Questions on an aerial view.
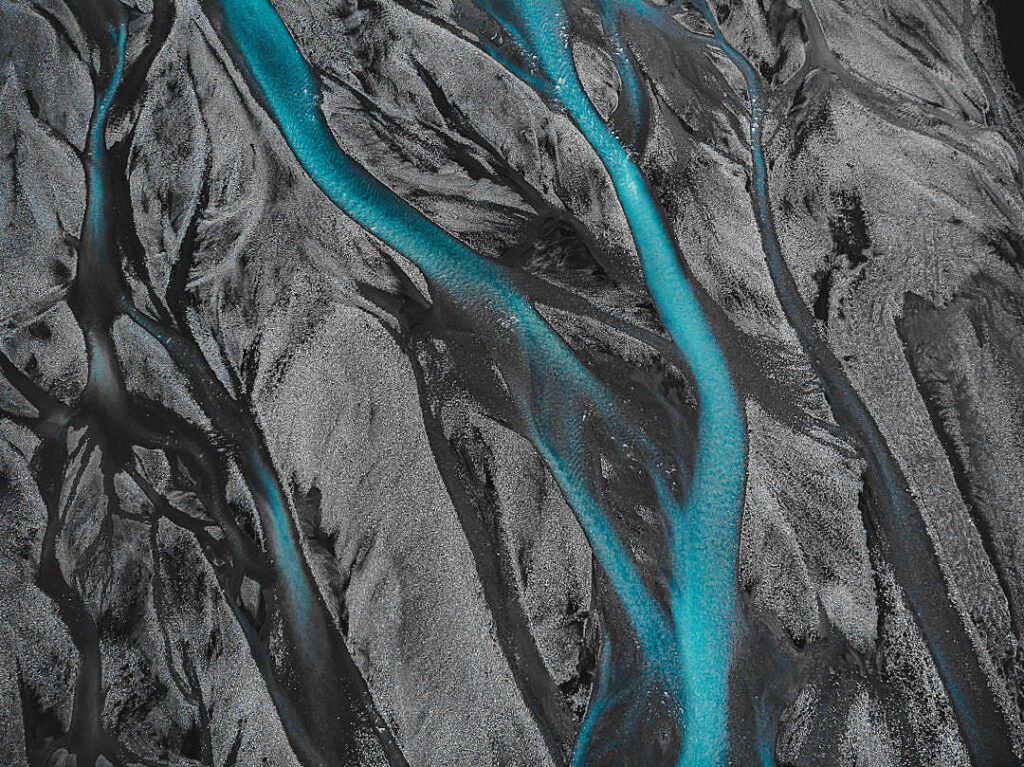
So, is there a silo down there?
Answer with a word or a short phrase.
No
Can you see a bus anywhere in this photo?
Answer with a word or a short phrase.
No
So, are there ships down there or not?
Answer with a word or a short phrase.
No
